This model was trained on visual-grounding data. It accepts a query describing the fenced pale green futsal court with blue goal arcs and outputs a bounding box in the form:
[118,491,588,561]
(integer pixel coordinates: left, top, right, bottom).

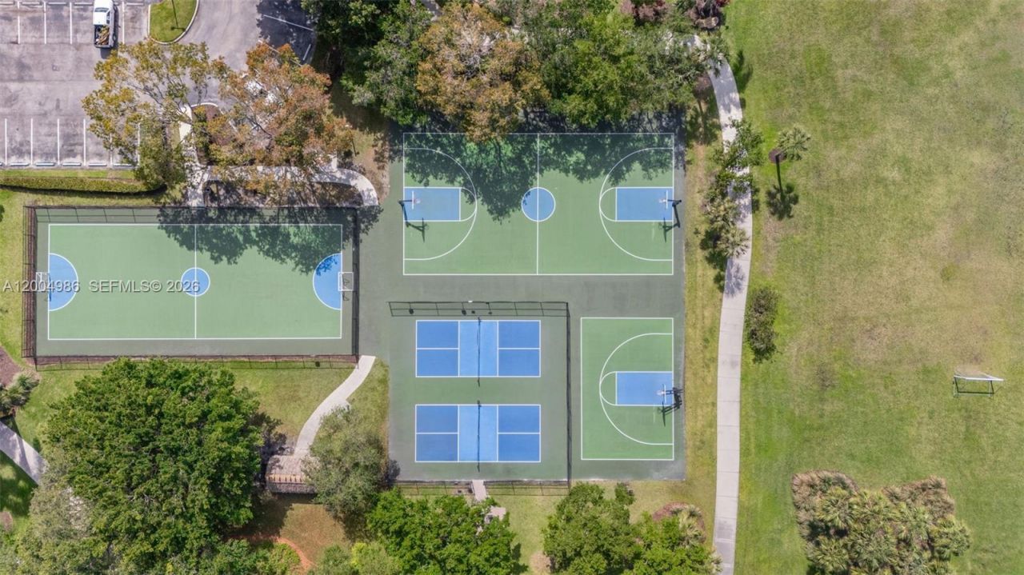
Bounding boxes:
[48,224,342,339]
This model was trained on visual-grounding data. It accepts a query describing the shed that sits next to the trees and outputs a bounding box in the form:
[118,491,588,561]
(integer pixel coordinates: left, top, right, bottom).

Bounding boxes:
[262,452,325,497]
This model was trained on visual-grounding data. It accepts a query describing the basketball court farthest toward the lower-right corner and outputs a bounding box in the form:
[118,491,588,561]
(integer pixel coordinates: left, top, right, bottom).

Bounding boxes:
[581,317,674,459]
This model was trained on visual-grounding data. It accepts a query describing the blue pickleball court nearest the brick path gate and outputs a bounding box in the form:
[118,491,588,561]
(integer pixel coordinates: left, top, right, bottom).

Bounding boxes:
[416,404,541,462]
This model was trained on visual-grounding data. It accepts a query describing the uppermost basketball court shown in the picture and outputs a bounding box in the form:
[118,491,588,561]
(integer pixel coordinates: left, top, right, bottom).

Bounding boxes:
[403,133,673,274]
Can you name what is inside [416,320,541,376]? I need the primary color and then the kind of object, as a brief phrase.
blue sports court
